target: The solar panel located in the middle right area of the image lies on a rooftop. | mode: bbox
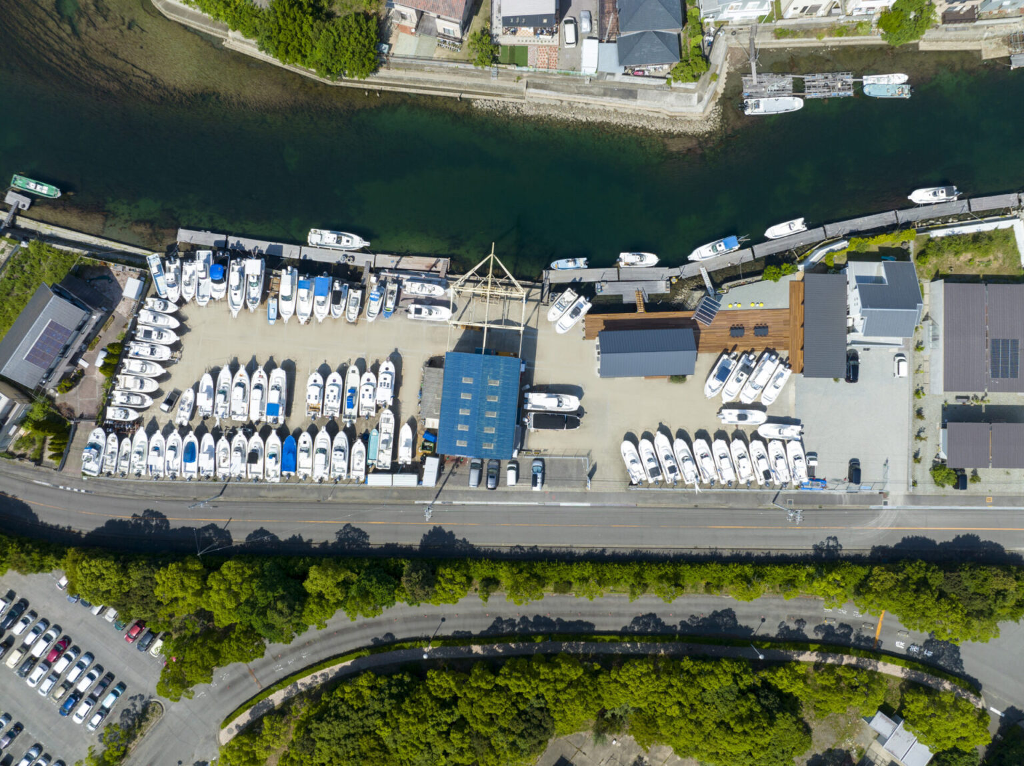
[991,338,1019,378]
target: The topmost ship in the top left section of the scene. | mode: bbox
[11,175,60,197]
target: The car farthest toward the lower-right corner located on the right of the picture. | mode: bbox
[951,468,968,494]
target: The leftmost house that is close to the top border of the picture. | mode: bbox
[392,0,471,39]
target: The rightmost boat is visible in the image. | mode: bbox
[909,185,963,203]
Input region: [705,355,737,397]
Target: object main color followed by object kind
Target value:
white boat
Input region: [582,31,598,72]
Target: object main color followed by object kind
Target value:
white vehicle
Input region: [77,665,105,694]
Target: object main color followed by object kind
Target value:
white car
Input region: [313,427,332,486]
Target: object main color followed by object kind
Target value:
white boat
